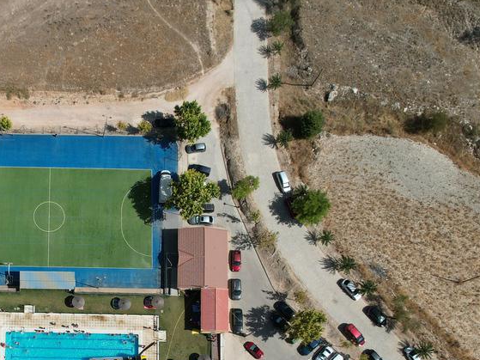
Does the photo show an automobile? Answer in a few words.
Yes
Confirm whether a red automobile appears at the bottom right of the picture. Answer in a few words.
Yes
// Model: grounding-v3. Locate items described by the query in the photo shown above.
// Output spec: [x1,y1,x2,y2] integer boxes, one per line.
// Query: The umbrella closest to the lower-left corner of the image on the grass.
[72,297,85,309]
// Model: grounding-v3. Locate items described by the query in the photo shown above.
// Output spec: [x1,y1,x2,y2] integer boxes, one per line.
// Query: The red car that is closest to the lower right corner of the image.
[343,321,365,346]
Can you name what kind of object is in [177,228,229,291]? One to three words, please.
house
